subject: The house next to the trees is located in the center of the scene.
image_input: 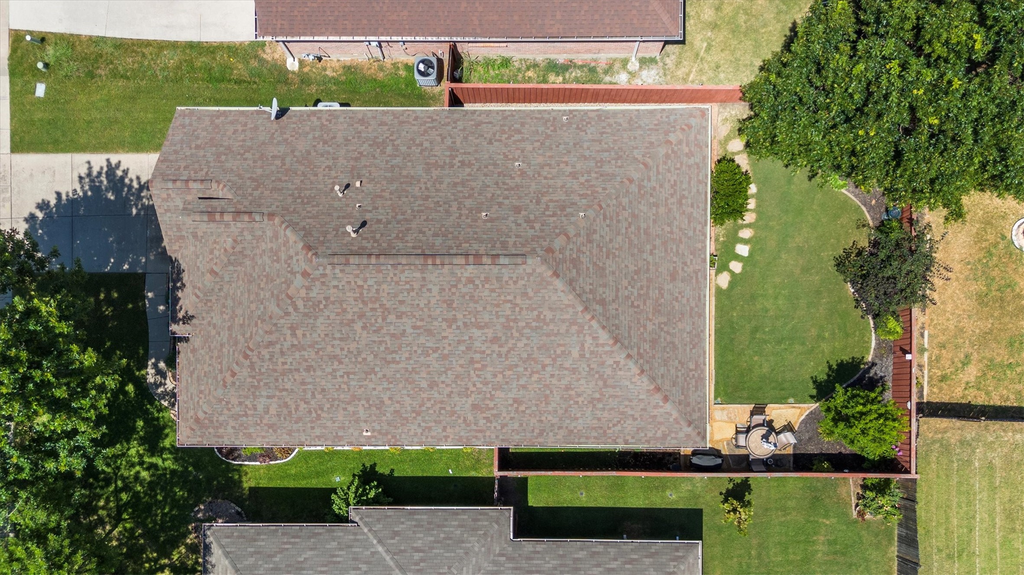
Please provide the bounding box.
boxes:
[148,107,711,446]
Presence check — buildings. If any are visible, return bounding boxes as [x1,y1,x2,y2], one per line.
[251,0,683,63]
[203,507,702,575]
[148,107,711,446]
